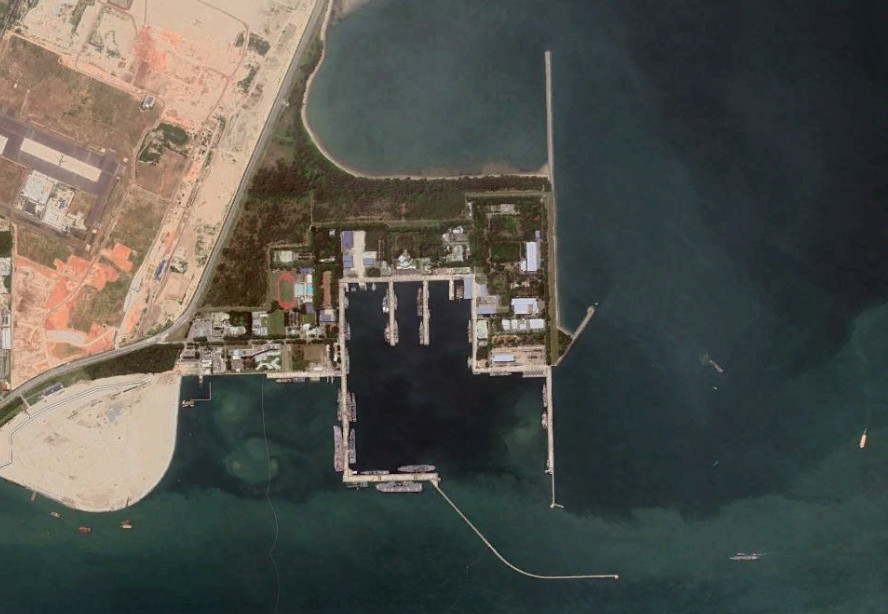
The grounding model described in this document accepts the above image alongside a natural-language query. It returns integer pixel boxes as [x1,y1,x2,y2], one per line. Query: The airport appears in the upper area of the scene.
[0,113,118,229]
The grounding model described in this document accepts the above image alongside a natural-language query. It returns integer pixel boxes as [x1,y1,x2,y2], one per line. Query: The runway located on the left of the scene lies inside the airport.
[0,113,117,193]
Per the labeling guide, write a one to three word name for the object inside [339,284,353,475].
pier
